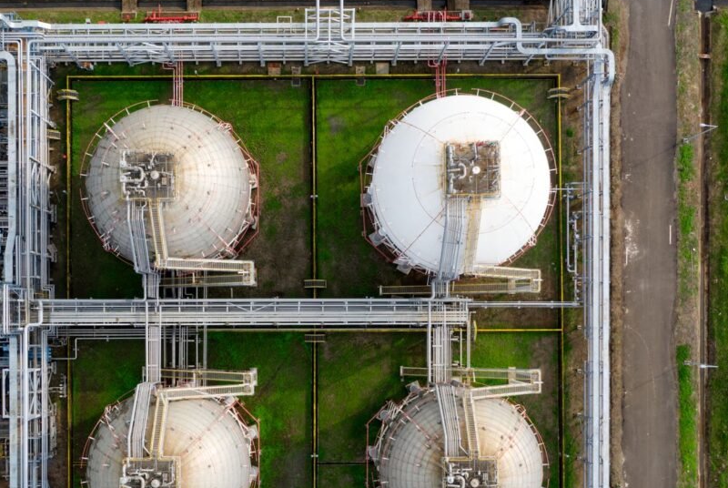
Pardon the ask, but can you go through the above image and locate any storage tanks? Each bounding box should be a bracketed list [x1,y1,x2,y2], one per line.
[359,86,560,283]
[365,374,551,488]
[76,96,262,280]
[77,374,263,488]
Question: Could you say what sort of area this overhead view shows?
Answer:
industrial area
